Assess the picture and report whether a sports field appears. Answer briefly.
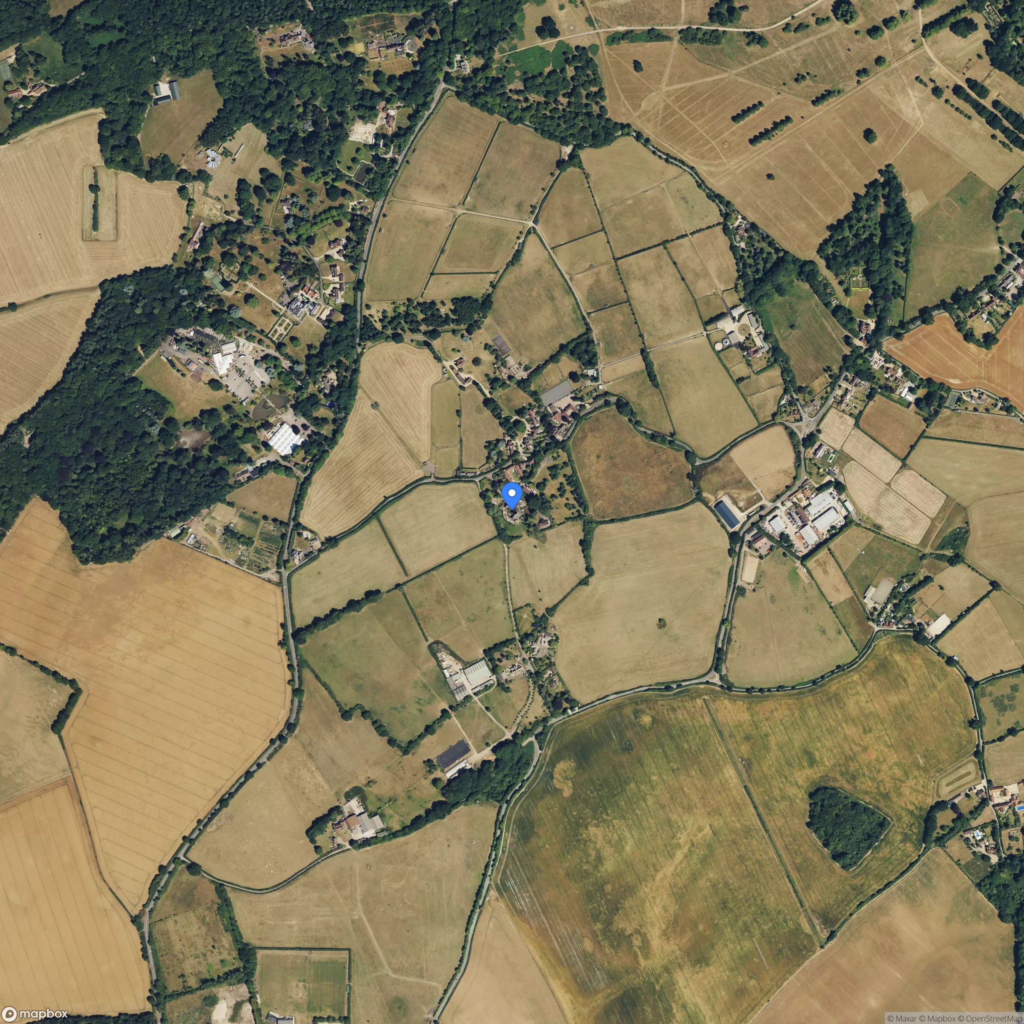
Yes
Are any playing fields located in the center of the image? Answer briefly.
No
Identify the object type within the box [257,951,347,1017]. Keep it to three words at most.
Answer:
sports field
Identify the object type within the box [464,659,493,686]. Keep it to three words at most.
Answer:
building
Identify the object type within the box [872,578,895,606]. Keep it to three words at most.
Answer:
building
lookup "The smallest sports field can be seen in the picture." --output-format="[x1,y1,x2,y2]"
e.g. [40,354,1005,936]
[308,959,348,1015]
